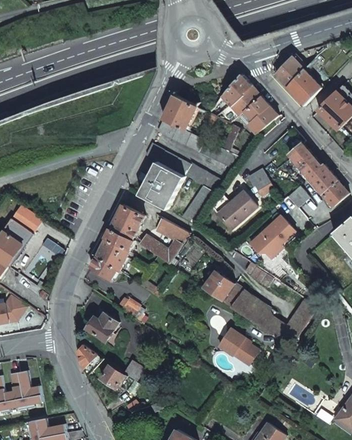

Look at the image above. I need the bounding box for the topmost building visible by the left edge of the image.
[12,206,42,232]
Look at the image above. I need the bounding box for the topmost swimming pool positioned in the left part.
[30,257,47,277]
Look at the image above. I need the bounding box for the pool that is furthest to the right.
[288,384,316,405]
